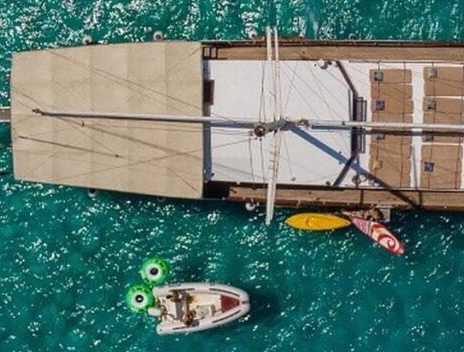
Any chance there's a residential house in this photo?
No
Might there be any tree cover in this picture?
No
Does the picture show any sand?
No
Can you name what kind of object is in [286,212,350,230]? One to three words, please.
boat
